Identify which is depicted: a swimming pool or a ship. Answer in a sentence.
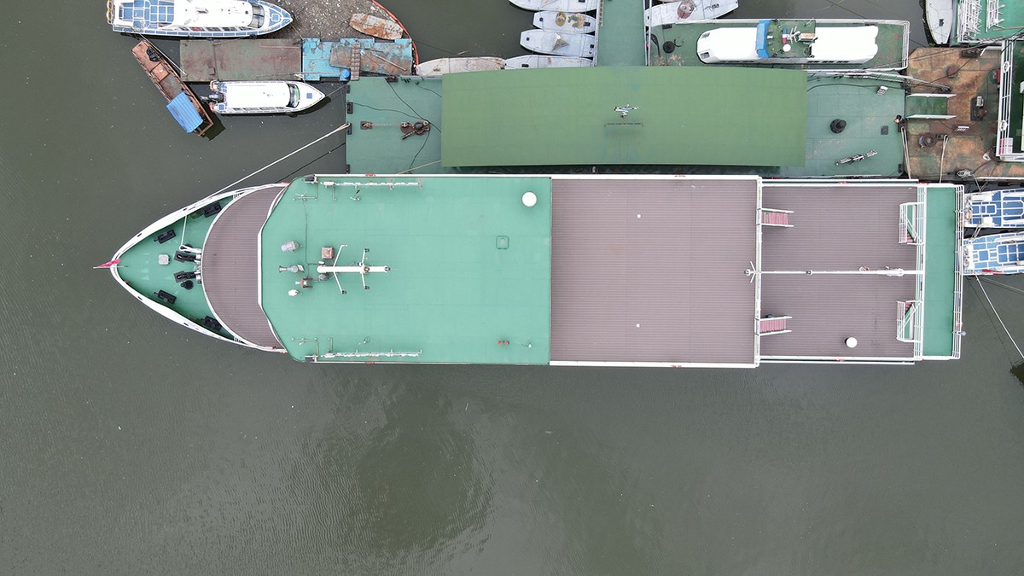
The one in the frame is a ship.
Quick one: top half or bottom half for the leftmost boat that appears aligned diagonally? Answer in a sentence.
You can find the leftmost boat that appears aligned diagonally in the top half.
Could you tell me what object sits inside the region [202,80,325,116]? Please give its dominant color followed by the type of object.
white boat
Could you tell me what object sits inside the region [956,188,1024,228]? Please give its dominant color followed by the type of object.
white boat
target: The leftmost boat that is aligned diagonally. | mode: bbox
[132,40,214,136]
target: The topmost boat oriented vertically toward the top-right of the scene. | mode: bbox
[923,0,945,46]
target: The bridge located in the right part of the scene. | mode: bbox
[596,0,650,68]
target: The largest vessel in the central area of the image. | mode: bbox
[93,175,966,367]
